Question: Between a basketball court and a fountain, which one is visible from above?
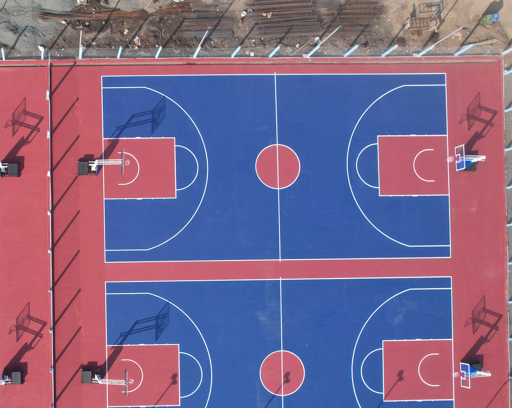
basketball court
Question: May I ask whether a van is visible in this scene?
No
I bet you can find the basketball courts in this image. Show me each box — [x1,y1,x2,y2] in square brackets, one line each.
[106,277,454,408]
[102,74,451,262]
